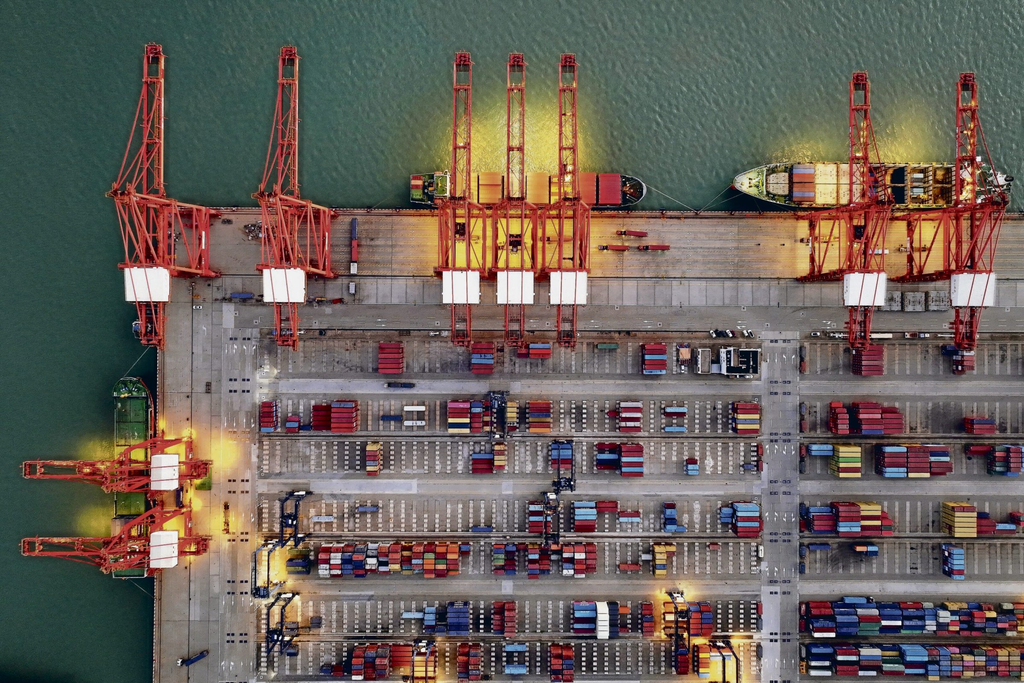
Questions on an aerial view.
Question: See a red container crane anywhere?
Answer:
Yes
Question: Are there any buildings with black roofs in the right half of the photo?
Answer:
Yes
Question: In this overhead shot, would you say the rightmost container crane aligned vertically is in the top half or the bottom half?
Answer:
top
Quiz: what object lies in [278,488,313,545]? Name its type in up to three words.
container crane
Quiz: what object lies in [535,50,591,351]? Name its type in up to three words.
container crane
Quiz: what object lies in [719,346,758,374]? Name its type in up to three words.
building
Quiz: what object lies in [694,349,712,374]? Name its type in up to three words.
building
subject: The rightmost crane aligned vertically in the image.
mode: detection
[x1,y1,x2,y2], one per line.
[887,72,1011,353]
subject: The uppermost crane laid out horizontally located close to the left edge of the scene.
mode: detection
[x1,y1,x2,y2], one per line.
[18,430,215,493]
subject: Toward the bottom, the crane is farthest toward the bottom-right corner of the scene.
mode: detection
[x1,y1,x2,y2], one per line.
[706,638,741,683]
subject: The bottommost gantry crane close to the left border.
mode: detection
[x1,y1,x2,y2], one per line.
[17,500,214,574]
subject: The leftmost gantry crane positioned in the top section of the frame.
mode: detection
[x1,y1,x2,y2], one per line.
[108,44,221,349]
